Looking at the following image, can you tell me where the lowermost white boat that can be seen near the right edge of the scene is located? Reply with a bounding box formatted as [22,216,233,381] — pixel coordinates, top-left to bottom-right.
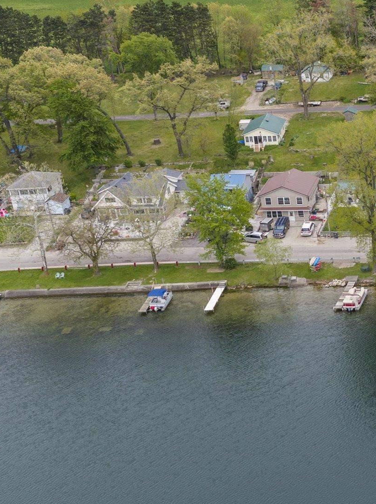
[339,284,369,316]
